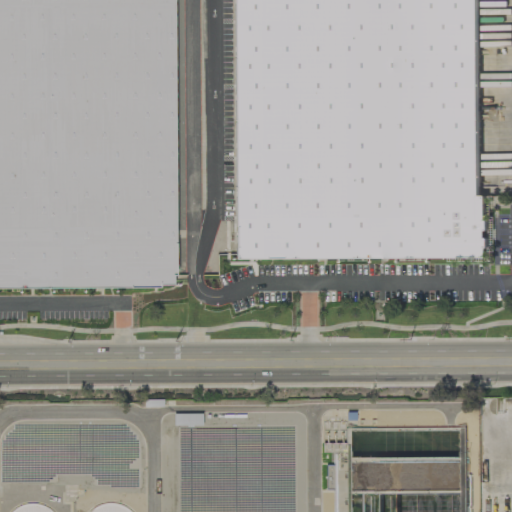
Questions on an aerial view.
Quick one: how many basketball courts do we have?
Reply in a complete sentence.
I count no basketball courts.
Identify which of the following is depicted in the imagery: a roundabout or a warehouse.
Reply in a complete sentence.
Looking from above, you can make out a warehouse.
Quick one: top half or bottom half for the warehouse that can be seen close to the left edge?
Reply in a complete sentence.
The top half of the photo is where the warehouse that can be seen close to the left edge is.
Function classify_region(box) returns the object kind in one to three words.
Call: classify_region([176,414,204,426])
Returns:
shed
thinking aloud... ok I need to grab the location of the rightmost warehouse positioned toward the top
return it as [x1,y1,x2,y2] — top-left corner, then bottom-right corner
[237,0,485,259]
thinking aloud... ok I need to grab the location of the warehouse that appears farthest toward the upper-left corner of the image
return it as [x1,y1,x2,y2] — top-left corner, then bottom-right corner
[0,0,180,289]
